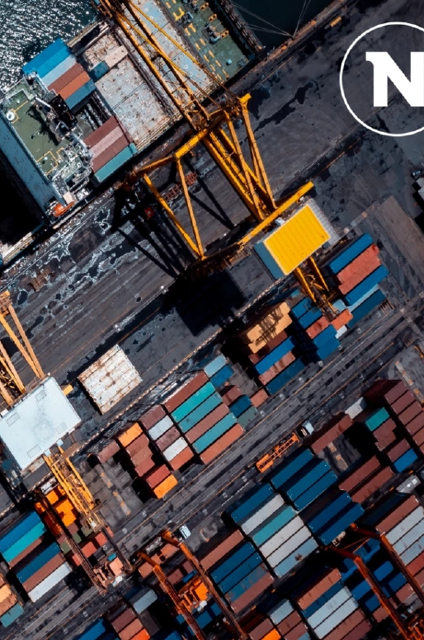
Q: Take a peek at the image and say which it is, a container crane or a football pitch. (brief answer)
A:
container crane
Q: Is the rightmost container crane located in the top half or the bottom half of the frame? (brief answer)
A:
bottom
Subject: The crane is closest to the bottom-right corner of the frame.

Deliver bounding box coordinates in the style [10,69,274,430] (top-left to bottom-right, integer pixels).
[325,526,424,640]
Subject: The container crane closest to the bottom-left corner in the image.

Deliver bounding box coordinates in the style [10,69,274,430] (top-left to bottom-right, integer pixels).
[29,467,134,595]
